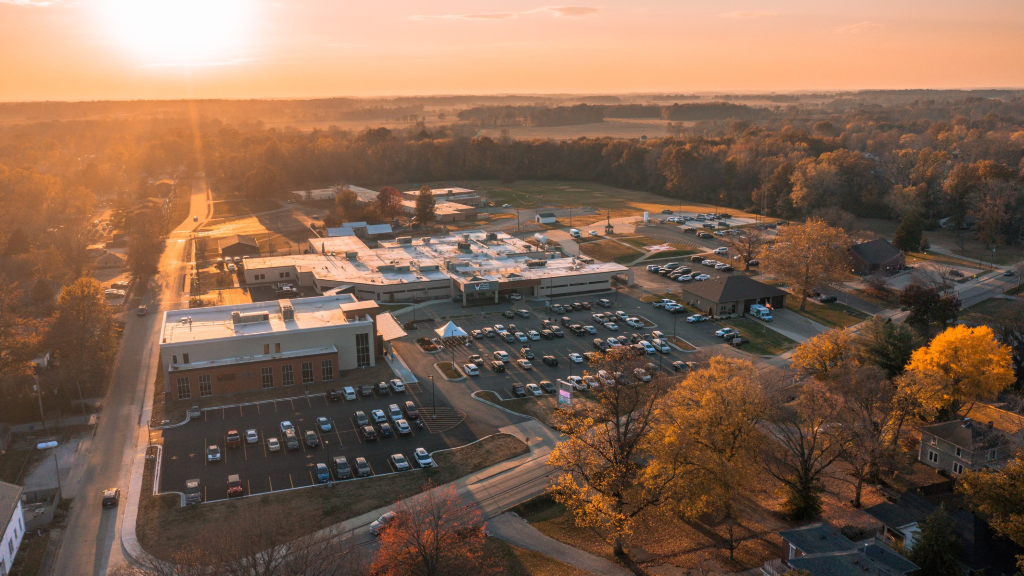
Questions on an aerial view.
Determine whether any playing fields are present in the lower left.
No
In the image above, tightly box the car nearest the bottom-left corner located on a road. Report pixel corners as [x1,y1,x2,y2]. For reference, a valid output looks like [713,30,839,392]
[101,486,121,508]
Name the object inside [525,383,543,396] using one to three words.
vehicle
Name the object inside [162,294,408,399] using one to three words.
building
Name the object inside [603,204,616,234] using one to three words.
gazebo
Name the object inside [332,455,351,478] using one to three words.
vehicle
